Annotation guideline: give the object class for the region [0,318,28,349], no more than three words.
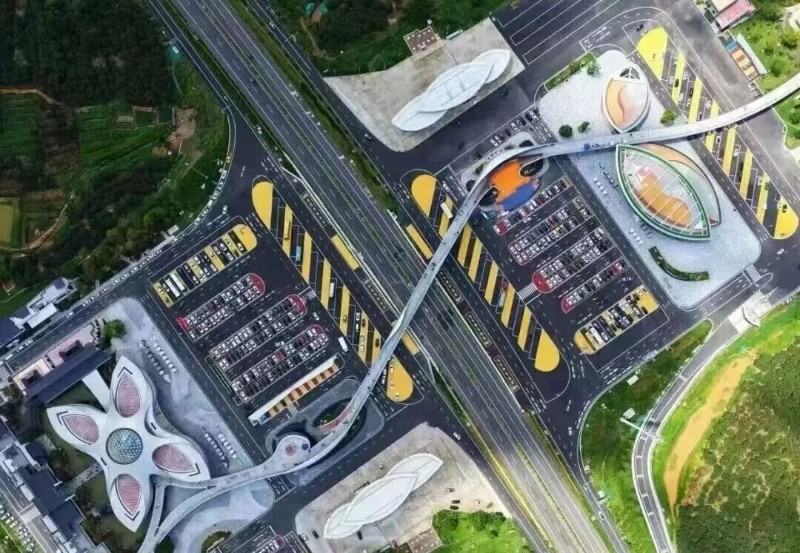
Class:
house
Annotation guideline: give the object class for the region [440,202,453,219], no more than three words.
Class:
vehicle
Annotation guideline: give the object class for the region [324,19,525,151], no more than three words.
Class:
gas station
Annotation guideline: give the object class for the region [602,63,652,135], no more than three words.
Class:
building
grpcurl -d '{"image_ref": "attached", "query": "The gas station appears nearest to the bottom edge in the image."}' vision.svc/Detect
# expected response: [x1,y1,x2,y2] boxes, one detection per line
[292,423,511,553]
